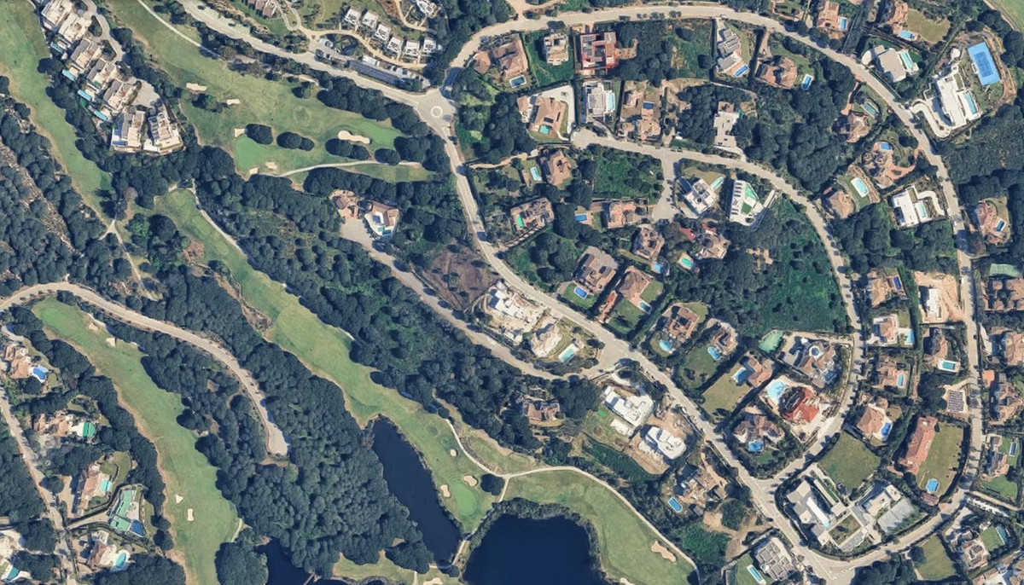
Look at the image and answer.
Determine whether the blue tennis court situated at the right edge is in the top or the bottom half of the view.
top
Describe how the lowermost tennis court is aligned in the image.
at an angle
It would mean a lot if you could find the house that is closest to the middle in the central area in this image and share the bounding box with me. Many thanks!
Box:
[492,280,538,326]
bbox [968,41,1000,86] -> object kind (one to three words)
tennis court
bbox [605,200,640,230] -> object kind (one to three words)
house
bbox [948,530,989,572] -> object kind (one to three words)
house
